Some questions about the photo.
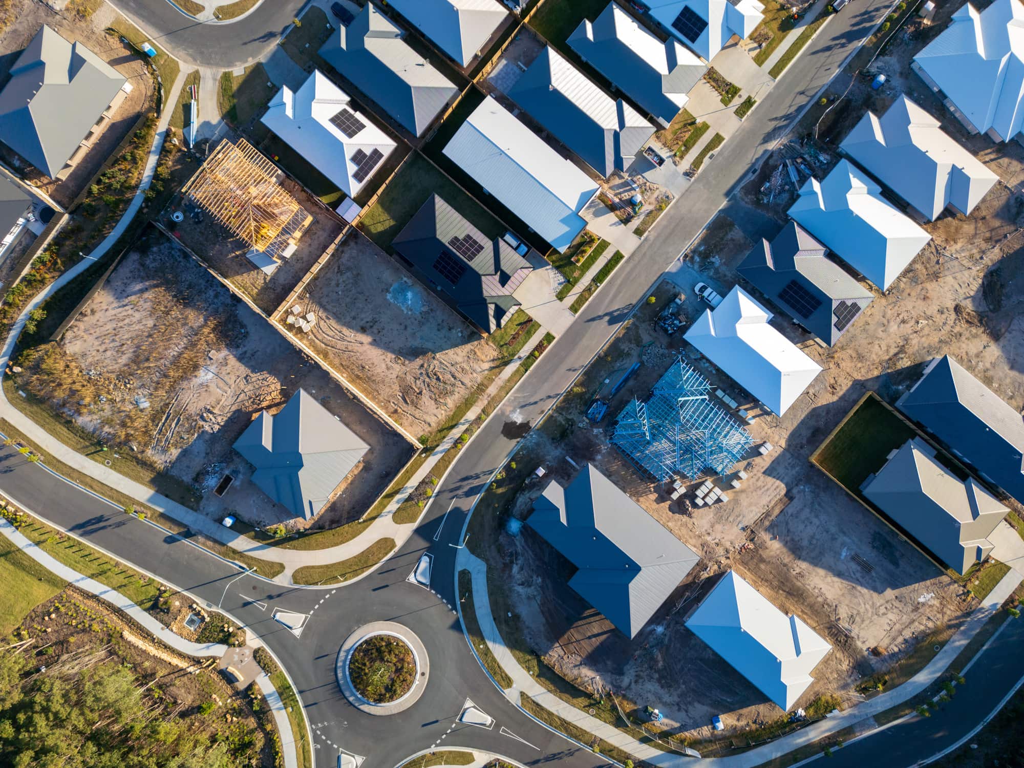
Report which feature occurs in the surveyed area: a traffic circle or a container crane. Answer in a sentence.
The one in the frame is a traffic circle.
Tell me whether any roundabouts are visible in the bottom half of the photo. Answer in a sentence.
Yes, a roundabout is visible in the bottom half of the photo.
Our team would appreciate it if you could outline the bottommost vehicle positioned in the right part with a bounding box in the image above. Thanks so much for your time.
[696,282,724,308]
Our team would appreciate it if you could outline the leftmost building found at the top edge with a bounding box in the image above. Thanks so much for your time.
[0,24,133,185]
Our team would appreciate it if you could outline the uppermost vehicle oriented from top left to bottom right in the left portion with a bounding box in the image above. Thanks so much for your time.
[328,0,354,27]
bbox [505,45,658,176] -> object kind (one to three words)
house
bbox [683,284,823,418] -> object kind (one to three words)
house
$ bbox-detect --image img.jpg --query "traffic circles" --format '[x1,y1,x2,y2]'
[336,621,429,715]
